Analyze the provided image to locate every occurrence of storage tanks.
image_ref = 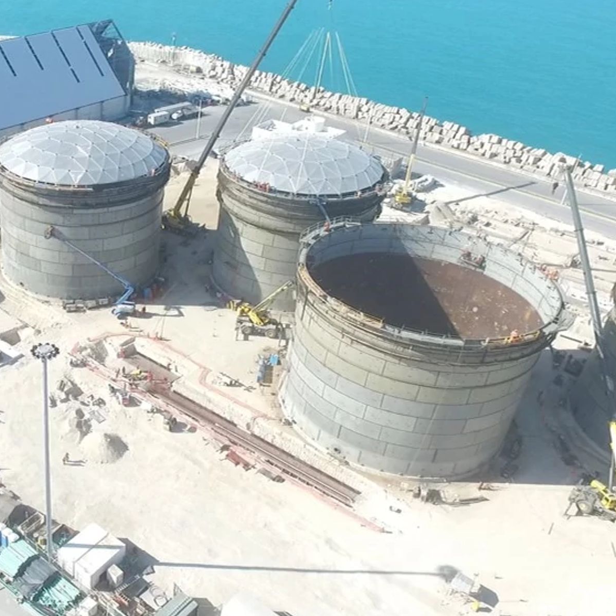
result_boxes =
[207,130,390,317]
[560,261,616,462]
[277,217,583,483]
[0,118,173,304]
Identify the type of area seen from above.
industrial area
